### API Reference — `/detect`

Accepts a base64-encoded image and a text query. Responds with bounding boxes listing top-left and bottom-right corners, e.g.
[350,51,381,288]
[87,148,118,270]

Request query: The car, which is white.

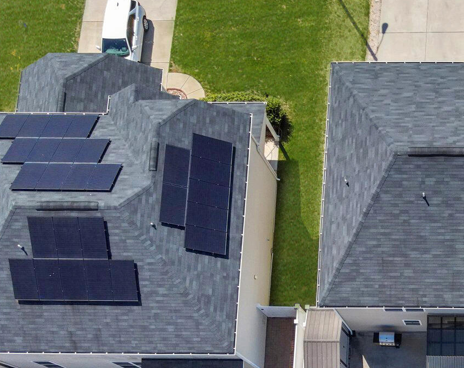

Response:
[97,1,147,64]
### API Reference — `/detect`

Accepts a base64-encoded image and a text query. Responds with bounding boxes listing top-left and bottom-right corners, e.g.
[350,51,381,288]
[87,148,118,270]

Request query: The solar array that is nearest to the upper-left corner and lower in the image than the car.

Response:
[0,115,122,191]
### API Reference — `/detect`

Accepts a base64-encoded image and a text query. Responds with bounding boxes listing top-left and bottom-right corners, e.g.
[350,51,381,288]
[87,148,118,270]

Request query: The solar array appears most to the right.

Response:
[159,133,234,256]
